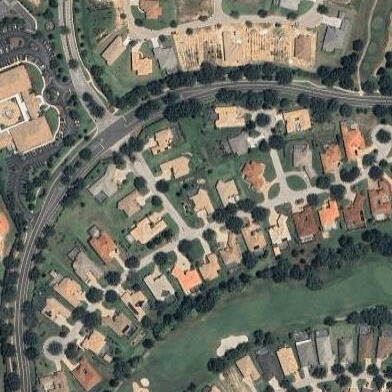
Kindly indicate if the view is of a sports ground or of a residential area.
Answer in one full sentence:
What you see here is a residential area.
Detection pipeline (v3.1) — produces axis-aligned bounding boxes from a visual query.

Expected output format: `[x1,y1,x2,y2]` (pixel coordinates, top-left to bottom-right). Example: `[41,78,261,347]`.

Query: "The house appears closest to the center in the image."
[192,184,213,217]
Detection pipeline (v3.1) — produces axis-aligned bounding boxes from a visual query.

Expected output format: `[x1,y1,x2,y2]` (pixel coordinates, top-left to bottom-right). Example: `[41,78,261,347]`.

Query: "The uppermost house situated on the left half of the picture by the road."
[139,0,161,19]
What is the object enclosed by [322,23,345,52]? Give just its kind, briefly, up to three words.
house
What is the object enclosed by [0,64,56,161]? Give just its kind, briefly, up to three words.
building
